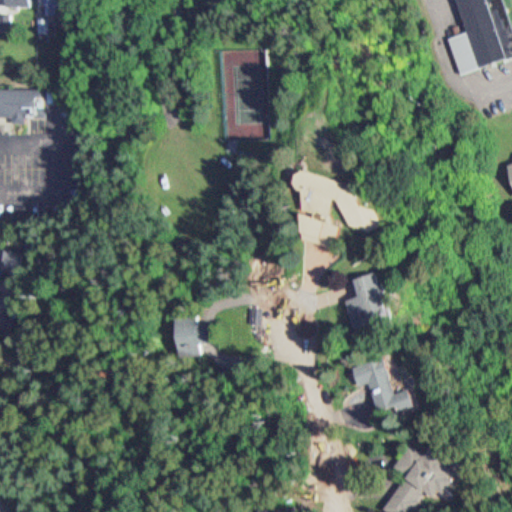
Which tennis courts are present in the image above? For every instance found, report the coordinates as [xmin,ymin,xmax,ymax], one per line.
[222,50,270,138]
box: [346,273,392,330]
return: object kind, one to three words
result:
house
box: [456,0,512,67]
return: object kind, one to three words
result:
building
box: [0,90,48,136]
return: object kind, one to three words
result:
house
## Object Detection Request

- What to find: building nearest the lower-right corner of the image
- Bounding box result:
[383,446,454,512]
